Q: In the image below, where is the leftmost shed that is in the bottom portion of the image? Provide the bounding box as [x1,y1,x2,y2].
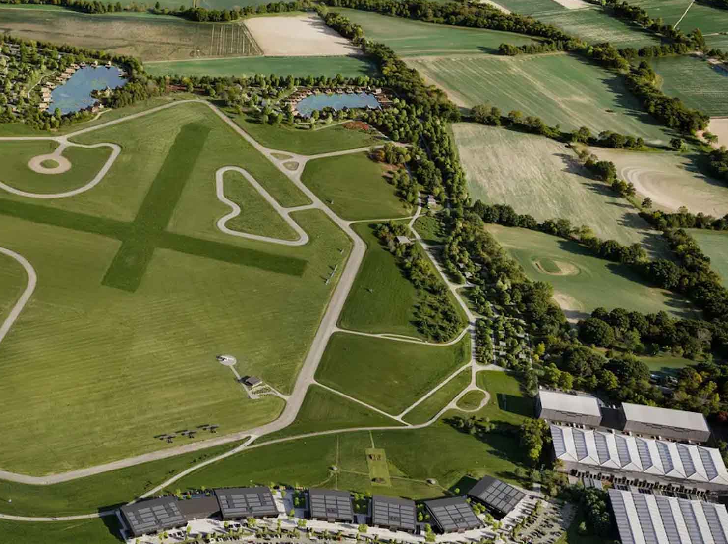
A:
[120,496,187,543]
